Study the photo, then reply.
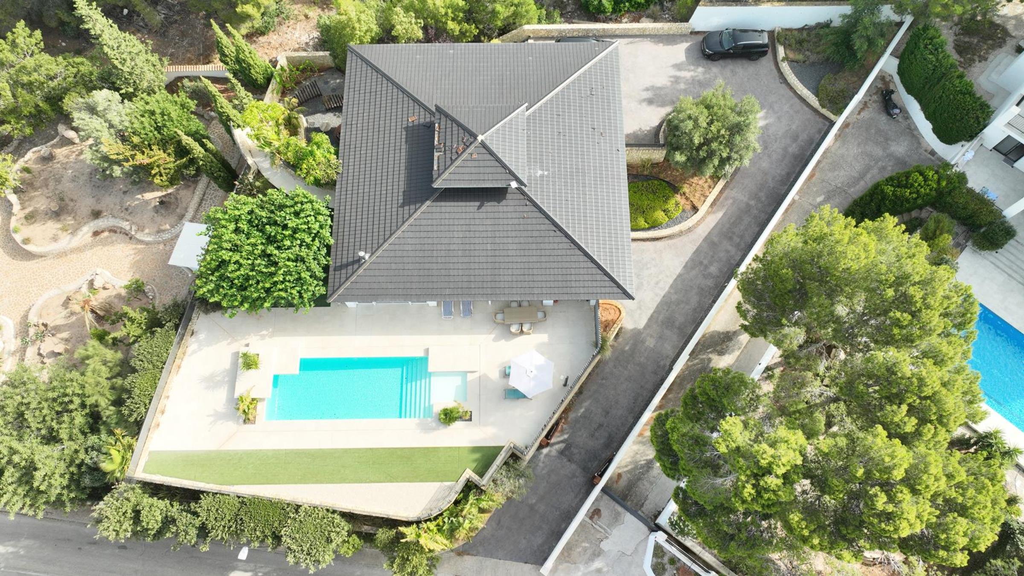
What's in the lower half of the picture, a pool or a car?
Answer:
pool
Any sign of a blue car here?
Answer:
No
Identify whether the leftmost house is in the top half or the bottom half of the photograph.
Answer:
top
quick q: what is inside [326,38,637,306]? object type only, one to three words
house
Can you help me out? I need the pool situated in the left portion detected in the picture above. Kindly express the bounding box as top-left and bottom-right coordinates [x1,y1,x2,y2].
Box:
[265,357,467,420]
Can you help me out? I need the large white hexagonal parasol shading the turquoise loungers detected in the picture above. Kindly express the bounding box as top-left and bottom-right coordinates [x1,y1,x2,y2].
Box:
[510,350,554,398]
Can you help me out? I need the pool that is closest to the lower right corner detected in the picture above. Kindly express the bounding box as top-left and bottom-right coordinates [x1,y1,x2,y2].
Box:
[944,296,1024,440]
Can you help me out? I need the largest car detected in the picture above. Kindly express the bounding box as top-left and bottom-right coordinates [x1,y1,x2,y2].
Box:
[701,26,772,64]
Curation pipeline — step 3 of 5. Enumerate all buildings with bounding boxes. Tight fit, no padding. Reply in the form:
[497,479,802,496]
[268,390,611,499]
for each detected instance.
[326,38,637,306]
[984,77,1024,179]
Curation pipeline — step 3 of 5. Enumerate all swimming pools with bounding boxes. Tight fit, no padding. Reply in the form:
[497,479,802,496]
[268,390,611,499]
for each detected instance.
[265,357,467,420]
[944,296,1024,440]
